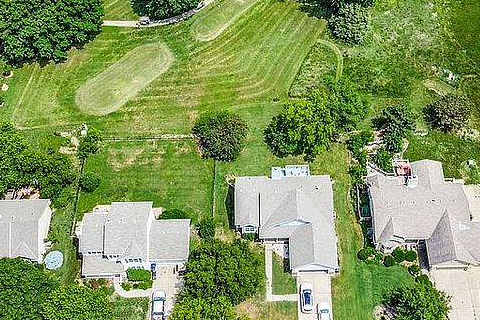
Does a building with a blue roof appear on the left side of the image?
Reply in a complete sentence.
No, I see no building with a blue roof on the left side of the image.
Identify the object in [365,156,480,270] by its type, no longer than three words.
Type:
house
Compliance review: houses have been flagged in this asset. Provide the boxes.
[365,156,480,270]
[77,200,190,279]
[234,162,339,275]
[0,199,53,270]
